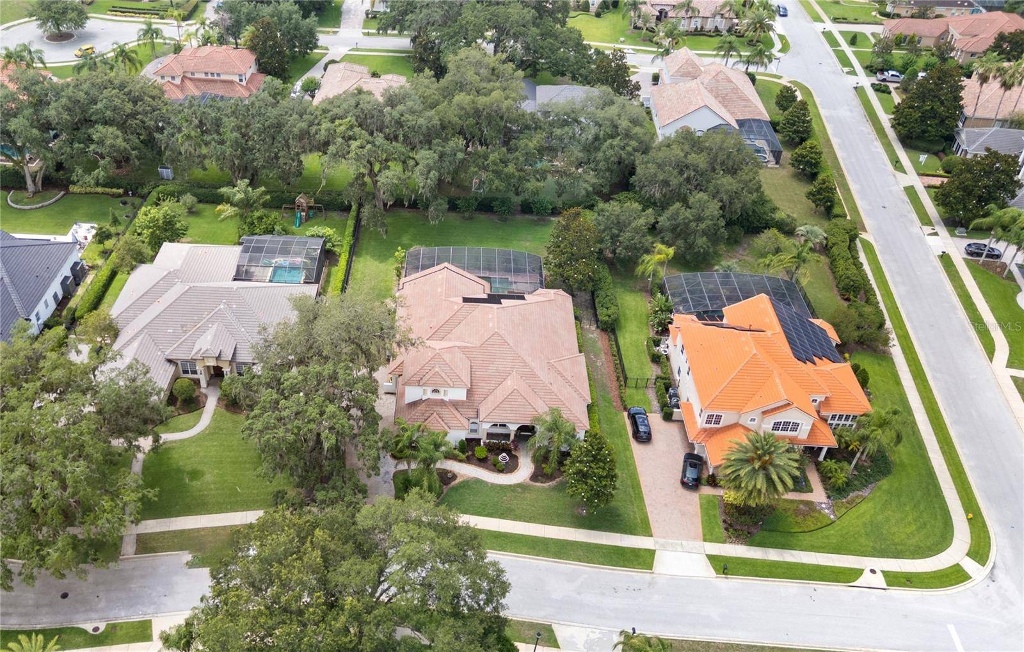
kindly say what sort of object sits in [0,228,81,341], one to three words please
house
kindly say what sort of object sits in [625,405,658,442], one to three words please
car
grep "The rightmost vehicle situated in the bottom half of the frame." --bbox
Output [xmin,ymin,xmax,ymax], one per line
[681,452,706,491]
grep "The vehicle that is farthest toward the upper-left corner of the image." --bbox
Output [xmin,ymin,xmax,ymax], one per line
[72,43,96,56]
